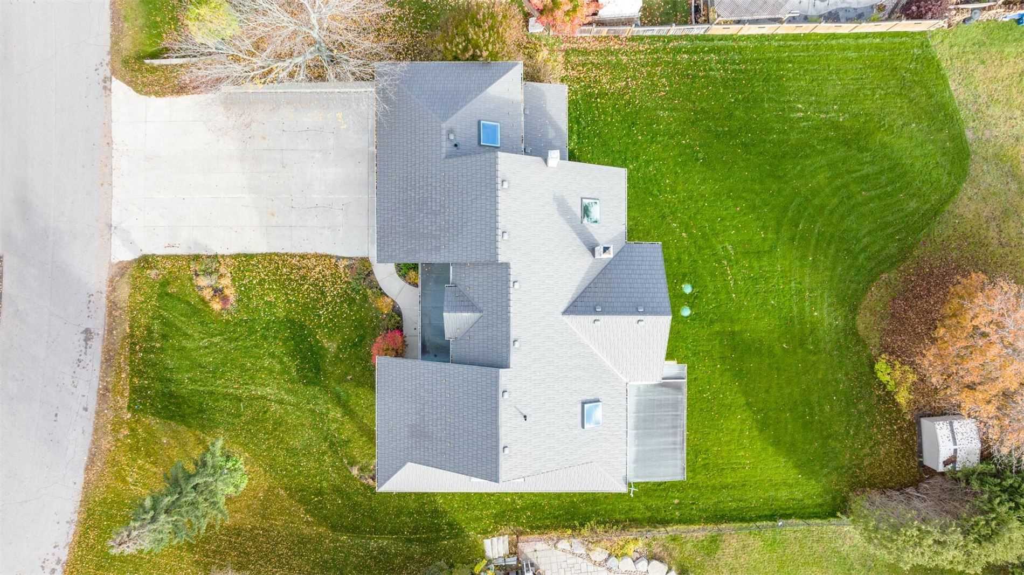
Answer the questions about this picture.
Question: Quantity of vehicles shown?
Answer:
0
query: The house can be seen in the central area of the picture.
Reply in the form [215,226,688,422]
[374,60,686,494]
